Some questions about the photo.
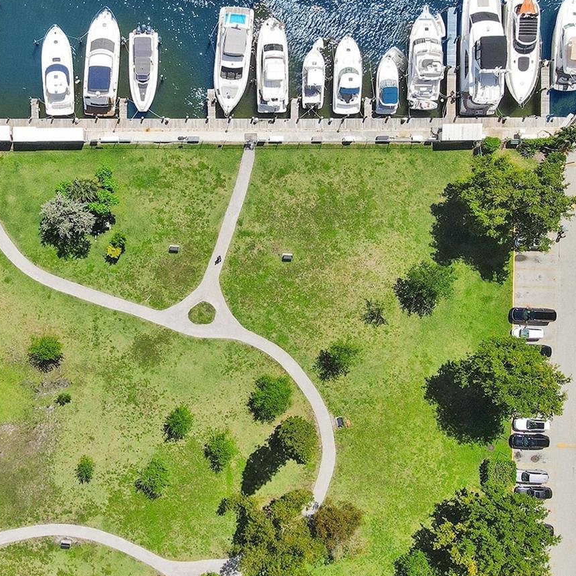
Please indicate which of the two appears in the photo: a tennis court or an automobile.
automobile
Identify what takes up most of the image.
grass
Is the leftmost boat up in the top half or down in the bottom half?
top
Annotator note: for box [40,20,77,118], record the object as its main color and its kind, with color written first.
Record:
white boat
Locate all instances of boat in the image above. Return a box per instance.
[330,31,365,118]
[389,46,406,77]
[301,38,328,115]
[502,0,549,110]
[404,3,452,101]
[436,16,447,38]
[548,0,576,96]
[128,26,160,112]
[83,2,123,118]
[212,4,254,118]
[254,14,290,117]
[455,0,506,118]
[407,100,437,112]
[373,53,401,118]
[40,20,77,118]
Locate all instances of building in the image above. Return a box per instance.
[14,128,85,144]
[434,123,483,143]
